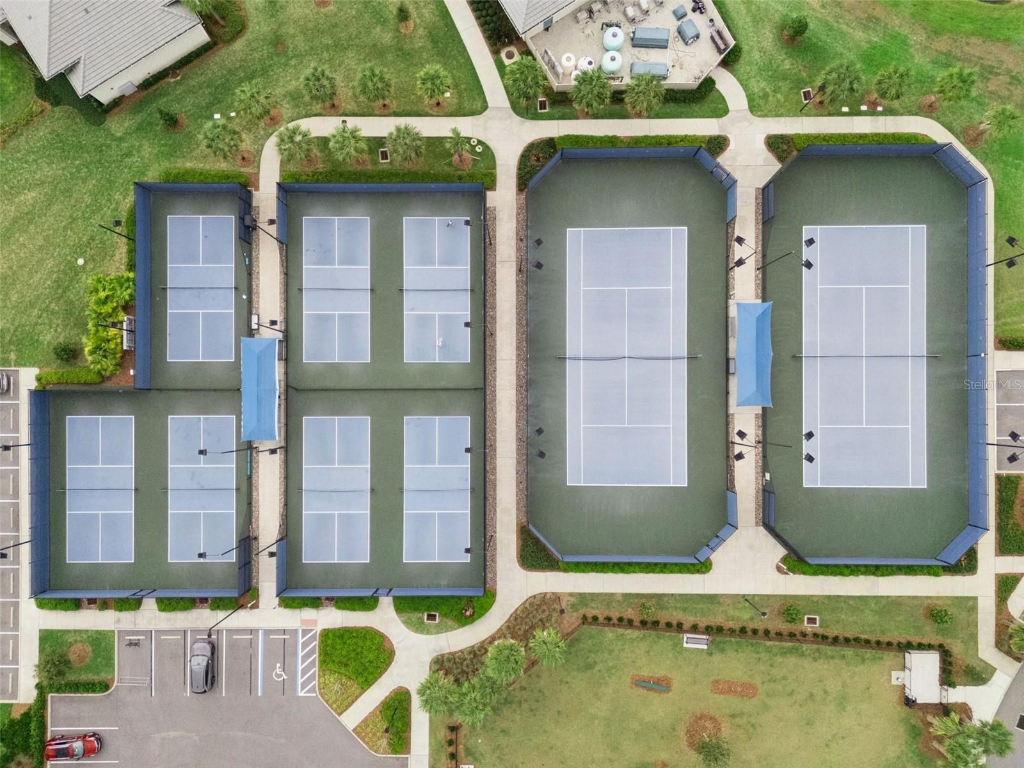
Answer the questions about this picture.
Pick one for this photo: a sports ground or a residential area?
sports ground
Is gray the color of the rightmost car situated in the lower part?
Yes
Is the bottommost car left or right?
left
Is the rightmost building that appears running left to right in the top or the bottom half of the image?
top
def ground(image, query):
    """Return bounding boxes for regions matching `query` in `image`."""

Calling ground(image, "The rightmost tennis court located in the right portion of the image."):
[763,155,968,559]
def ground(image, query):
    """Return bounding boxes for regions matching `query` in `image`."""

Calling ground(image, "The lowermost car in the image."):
[44,730,104,762]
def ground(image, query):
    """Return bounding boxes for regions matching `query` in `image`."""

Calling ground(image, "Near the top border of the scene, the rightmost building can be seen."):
[498,0,598,45]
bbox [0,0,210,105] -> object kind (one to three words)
building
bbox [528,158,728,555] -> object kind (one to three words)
tennis court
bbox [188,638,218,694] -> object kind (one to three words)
car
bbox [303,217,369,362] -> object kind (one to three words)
sports court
